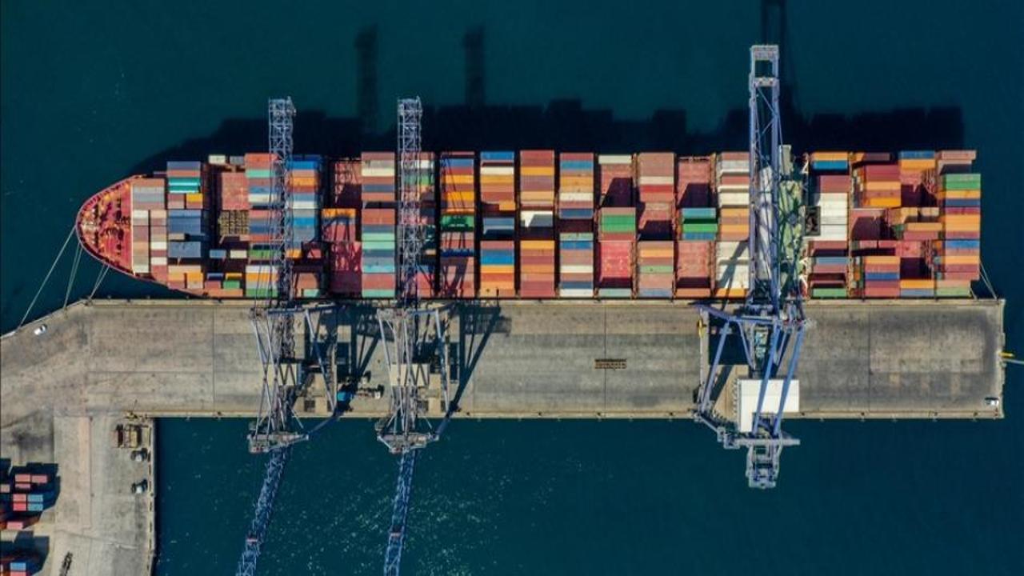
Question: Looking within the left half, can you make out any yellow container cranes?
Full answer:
No, there is no yellow container crane within the left half.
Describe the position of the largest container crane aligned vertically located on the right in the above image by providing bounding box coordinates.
[687,44,807,492]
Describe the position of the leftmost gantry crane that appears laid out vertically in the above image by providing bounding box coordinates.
[227,97,344,576]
